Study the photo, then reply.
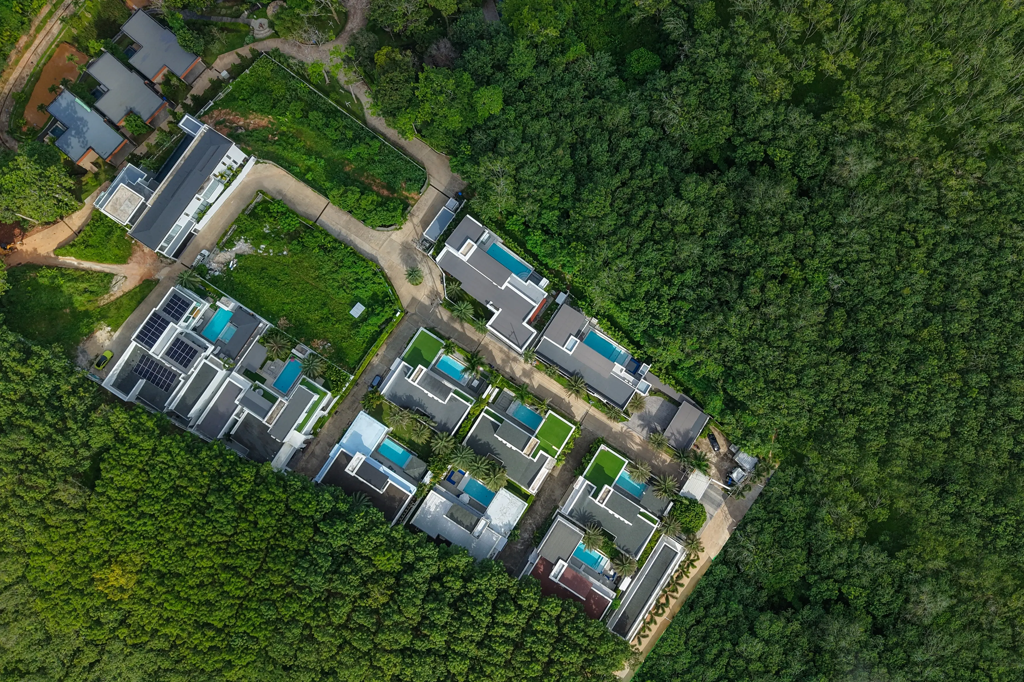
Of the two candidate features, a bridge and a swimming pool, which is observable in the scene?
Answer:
swimming pool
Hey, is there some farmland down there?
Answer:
No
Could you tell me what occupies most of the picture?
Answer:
trees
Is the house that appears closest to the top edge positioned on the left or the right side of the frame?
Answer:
left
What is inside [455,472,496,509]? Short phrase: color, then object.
blue swimming pool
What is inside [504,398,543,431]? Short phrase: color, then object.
blue swimming pool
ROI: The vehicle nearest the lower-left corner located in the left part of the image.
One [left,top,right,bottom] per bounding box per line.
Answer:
[93,350,111,370]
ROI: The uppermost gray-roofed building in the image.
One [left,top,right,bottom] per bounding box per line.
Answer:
[120,8,205,83]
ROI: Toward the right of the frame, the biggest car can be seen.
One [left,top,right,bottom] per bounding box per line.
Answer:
[708,432,722,454]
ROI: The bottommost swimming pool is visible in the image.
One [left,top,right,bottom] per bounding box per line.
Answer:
[572,540,611,575]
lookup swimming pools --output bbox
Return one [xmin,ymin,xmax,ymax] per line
[154,136,194,184]
[218,322,239,345]
[572,540,611,575]
[485,240,536,283]
[376,438,414,469]
[616,470,650,500]
[88,84,107,100]
[625,355,640,377]
[581,329,633,368]
[455,472,496,509]
[124,44,137,60]
[46,120,67,137]
[504,398,543,431]
[199,306,236,344]
[270,356,305,396]
[434,353,473,388]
